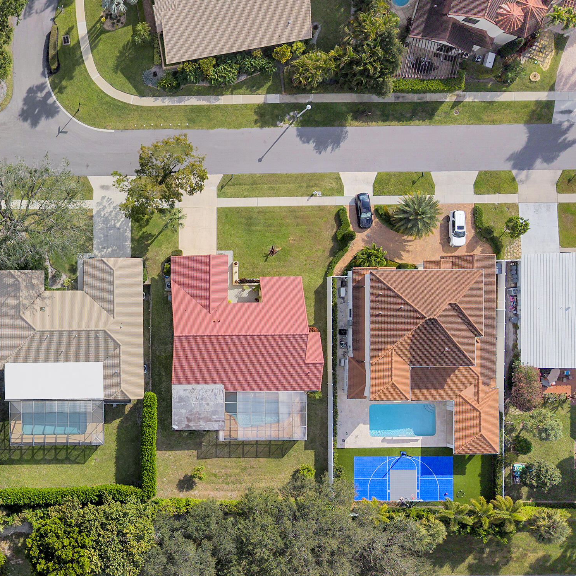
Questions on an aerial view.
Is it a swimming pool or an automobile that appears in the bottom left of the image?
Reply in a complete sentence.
You can see a swimming pool in the bottom left of the image.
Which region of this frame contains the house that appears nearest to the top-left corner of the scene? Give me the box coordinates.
[152,0,313,65]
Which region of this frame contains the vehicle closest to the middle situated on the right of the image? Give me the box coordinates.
[353,193,373,229]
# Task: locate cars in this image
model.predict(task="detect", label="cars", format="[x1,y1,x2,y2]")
[353,193,373,229]
[445,209,466,246]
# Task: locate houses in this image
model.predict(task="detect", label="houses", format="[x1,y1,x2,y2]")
[0,257,144,399]
[152,0,313,65]
[170,253,325,430]
[401,0,550,57]
[510,253,576,368]
[342,253,500,454]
